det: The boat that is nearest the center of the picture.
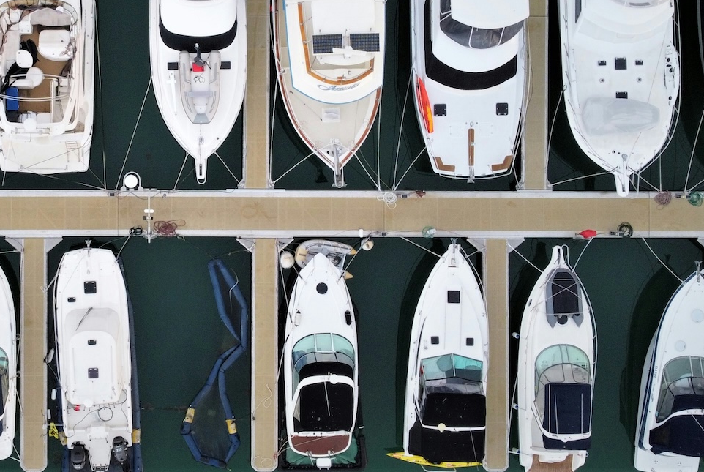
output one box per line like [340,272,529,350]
[291,238,358,281]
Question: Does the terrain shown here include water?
Yes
